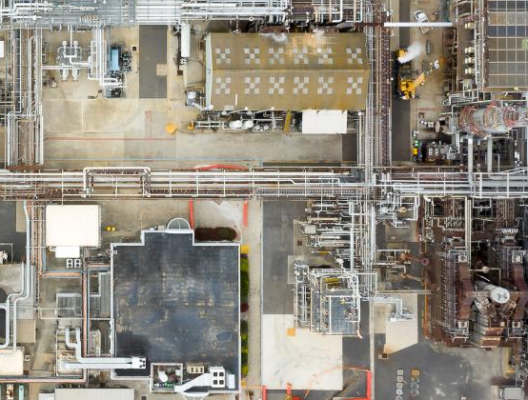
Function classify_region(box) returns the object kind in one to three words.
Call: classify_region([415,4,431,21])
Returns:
vehicle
